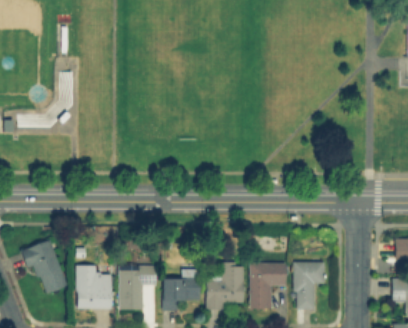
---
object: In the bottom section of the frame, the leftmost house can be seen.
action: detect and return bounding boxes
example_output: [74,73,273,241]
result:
[21,242,67,292]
